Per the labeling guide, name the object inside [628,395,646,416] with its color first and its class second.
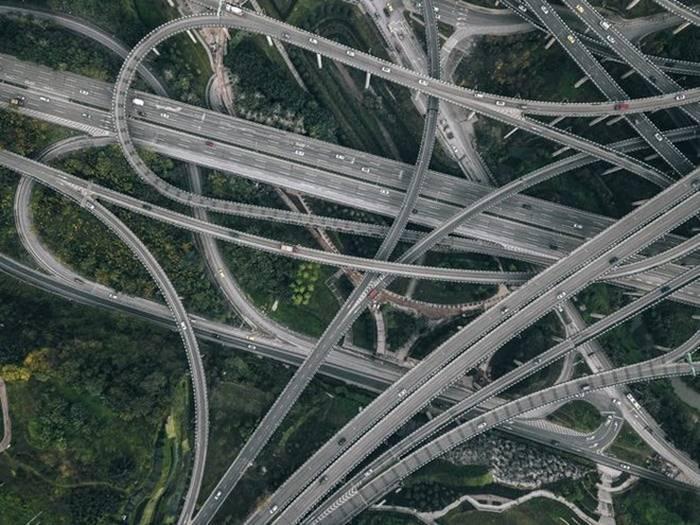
white vehicle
